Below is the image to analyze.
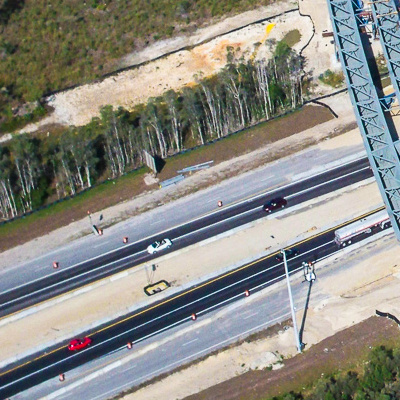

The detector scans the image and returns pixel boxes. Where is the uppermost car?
[262,191,286,209]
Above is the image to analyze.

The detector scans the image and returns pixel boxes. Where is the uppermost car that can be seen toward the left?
[144,236,170,251]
